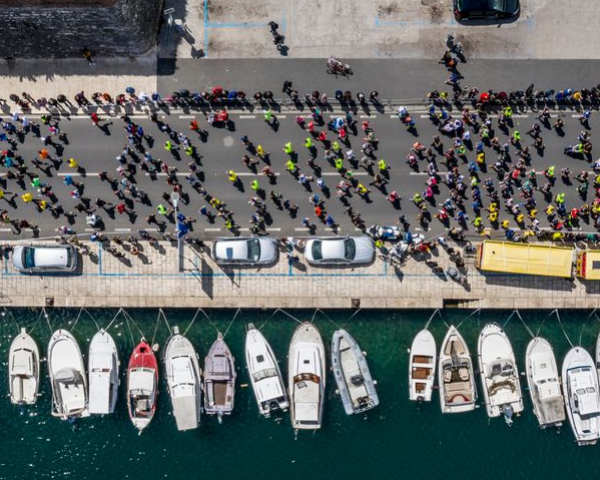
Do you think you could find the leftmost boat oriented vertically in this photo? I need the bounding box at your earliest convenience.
[4,308,43,409]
